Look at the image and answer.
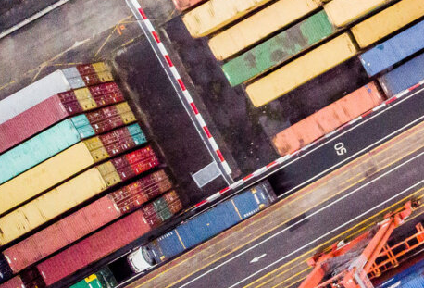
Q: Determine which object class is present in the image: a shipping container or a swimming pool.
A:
shipping container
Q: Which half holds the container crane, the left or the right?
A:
right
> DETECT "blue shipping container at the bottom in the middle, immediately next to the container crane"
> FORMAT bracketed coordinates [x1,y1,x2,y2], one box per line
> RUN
[146,178,277,267]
